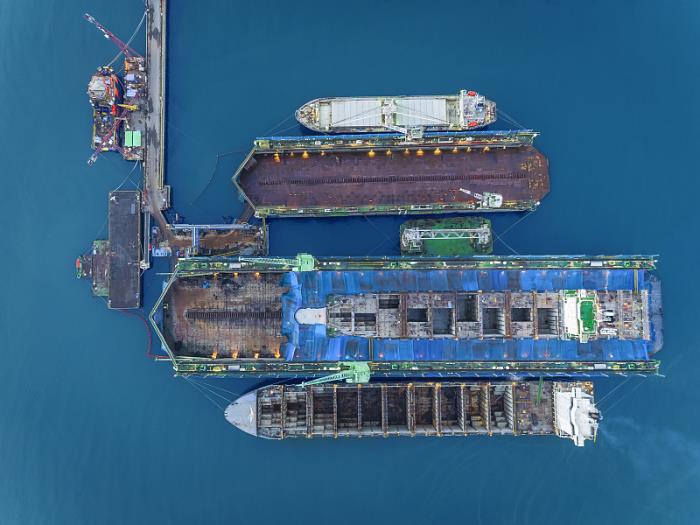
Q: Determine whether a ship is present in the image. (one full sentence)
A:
Yes, a ship is visible in the scene.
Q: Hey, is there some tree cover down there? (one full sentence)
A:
No, there is no tree cover in the image.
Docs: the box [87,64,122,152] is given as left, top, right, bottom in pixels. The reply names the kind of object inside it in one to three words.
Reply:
ship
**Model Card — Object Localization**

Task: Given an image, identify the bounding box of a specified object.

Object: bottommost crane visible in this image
[301,360,371,388]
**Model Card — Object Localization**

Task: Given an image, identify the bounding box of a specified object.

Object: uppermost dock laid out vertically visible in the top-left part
[142,0,171,212]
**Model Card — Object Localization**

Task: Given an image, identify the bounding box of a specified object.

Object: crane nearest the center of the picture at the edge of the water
[239,254,314,271]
